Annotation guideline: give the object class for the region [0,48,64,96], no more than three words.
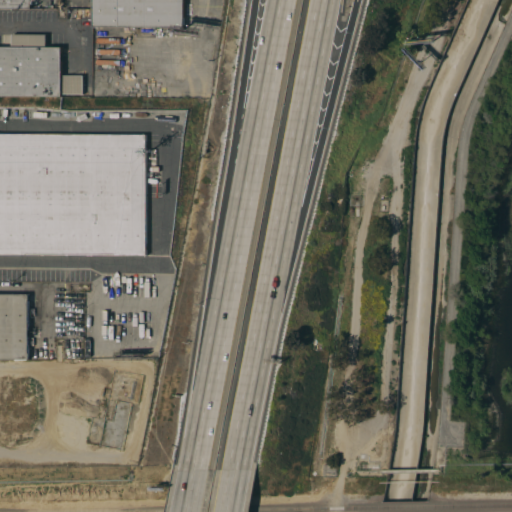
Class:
building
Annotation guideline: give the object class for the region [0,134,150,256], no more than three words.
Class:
warehouse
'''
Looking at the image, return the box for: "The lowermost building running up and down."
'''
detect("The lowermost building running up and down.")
[0,294,31,360]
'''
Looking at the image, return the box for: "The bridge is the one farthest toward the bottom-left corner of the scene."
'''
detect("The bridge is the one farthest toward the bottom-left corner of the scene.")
[165,470,257,512]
